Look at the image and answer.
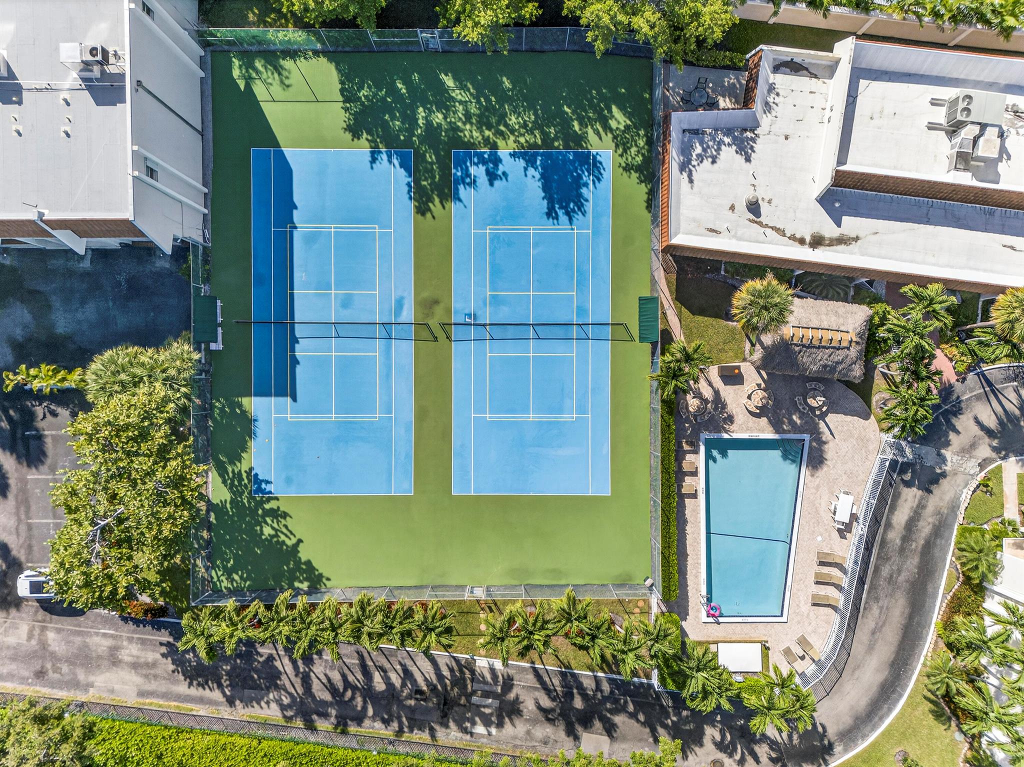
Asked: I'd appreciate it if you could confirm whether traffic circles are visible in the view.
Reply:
No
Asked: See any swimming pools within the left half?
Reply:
No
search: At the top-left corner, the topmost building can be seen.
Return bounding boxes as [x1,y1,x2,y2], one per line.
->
[0,0,212,254]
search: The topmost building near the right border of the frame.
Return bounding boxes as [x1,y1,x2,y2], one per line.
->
[661,36,1024,298]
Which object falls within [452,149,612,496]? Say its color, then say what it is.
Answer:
blue tennis court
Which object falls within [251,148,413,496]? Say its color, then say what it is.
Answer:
blue tennis court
